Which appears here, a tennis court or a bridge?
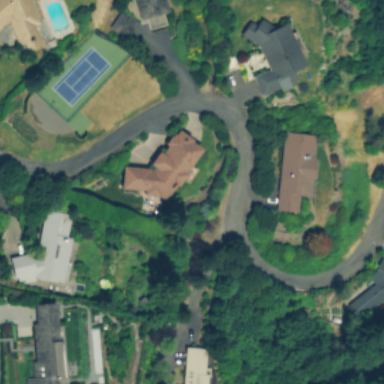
tennis court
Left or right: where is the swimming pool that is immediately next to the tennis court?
left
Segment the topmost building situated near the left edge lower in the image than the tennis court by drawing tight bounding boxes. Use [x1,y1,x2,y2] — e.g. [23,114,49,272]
[11,212,72,284]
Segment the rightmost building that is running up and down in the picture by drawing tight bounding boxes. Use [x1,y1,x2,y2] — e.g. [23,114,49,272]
[279,132,316,213]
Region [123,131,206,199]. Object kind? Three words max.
house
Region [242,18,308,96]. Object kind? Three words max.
house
